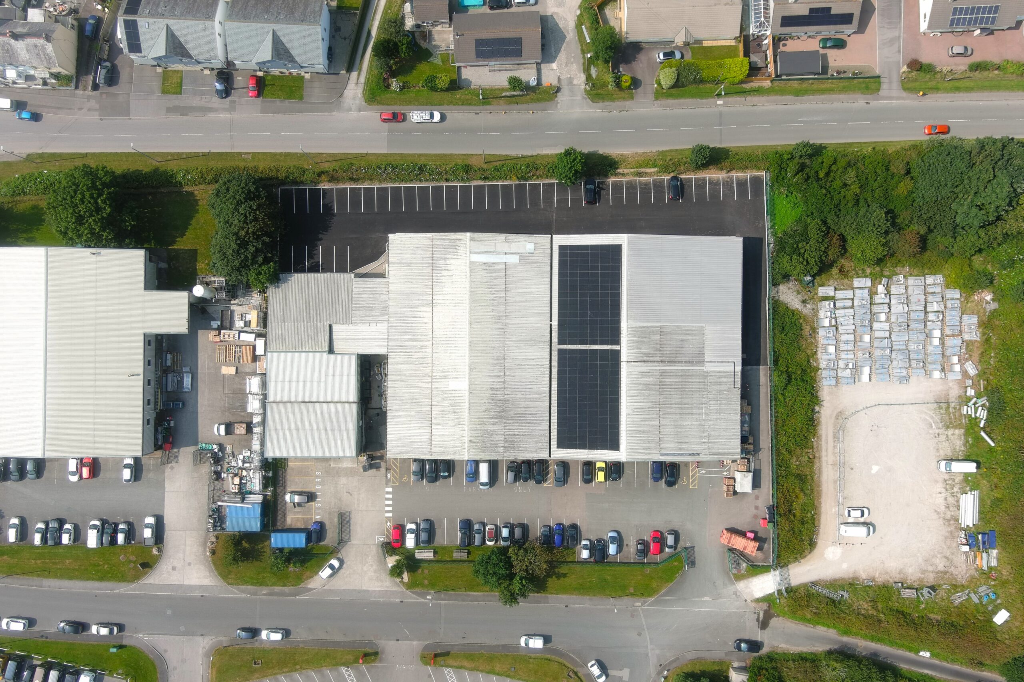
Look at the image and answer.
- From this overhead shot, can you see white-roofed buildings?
Yes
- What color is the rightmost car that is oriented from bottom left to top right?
white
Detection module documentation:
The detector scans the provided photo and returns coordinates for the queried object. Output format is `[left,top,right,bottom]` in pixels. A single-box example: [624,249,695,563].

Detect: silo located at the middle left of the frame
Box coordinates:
[189,283,218,299]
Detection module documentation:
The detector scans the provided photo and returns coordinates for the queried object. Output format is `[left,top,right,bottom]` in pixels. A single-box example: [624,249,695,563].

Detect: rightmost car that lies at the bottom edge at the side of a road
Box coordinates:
[733,638,760,653]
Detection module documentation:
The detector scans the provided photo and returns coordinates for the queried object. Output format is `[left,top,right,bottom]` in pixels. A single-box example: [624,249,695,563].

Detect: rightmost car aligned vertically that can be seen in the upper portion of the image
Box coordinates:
[669,176,681,200]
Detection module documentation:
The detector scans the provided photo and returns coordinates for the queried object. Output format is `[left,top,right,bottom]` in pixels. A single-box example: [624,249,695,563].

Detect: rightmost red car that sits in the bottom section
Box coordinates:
[650,531,662,555]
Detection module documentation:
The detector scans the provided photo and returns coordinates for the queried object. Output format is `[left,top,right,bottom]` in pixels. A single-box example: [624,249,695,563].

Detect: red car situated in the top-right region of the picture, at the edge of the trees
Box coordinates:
[923,123,948,136]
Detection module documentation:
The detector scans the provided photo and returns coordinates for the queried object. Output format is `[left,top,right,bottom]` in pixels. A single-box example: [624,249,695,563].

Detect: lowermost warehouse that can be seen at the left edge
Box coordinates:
[0,246,201,459]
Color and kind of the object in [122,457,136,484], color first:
white car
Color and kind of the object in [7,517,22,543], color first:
white car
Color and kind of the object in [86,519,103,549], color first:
white vehicle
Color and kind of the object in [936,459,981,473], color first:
white vehicle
